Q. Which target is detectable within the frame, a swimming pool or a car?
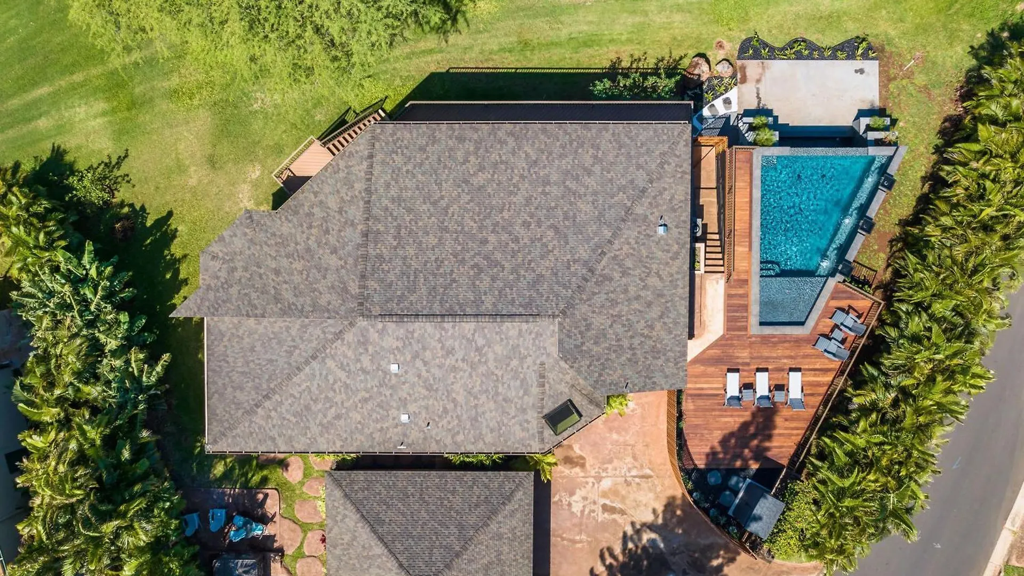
swimming pool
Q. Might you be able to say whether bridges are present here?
No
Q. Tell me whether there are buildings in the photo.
Yes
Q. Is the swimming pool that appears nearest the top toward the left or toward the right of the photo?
right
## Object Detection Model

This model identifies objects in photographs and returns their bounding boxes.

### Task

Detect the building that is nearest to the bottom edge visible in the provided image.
[324,466,535,576]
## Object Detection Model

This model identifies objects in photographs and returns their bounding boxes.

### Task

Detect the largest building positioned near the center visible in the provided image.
[170,100,694,456]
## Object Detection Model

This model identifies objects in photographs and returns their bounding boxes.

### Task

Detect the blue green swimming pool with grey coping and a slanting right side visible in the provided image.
[751,137,907,334]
